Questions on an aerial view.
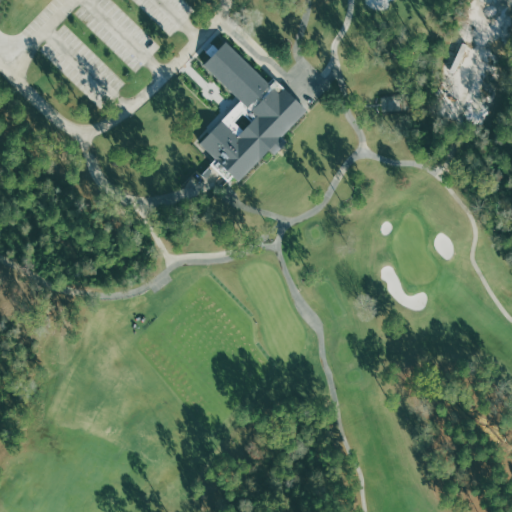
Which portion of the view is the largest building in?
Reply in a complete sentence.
Look in the top portion of the view to spot the largest building.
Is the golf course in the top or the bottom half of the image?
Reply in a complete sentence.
Seen from above, the golf course lies in the bottom half of the view.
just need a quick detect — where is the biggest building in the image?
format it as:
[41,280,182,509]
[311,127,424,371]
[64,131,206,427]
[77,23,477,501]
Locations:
[202,43,307,180]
